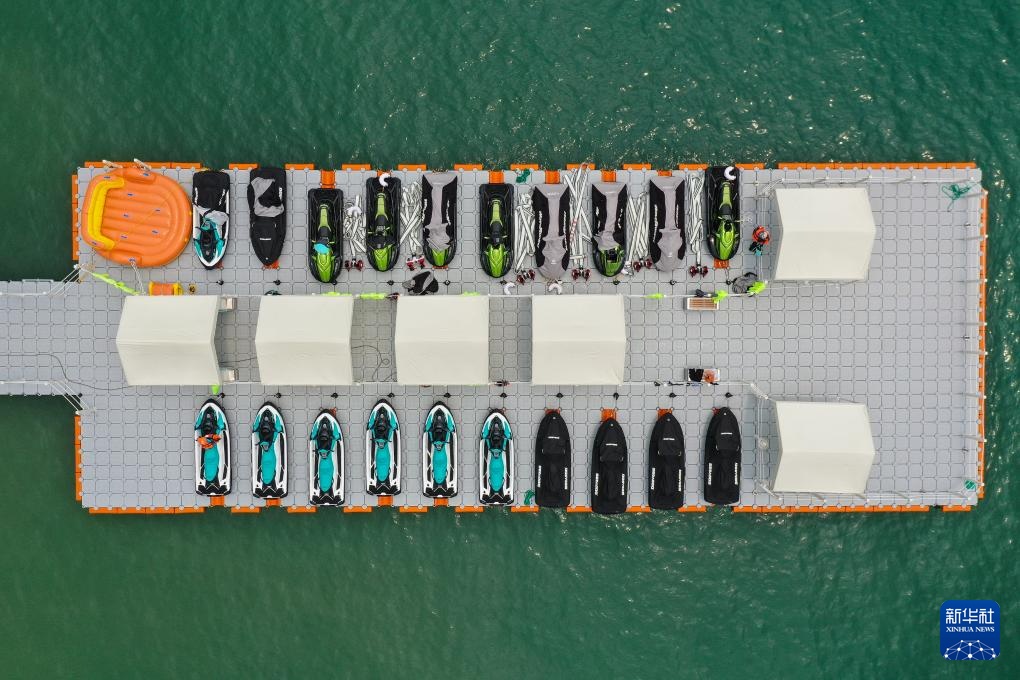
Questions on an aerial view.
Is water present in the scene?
Yes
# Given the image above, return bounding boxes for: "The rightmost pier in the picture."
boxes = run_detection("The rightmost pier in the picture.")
[74,163,985,513]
